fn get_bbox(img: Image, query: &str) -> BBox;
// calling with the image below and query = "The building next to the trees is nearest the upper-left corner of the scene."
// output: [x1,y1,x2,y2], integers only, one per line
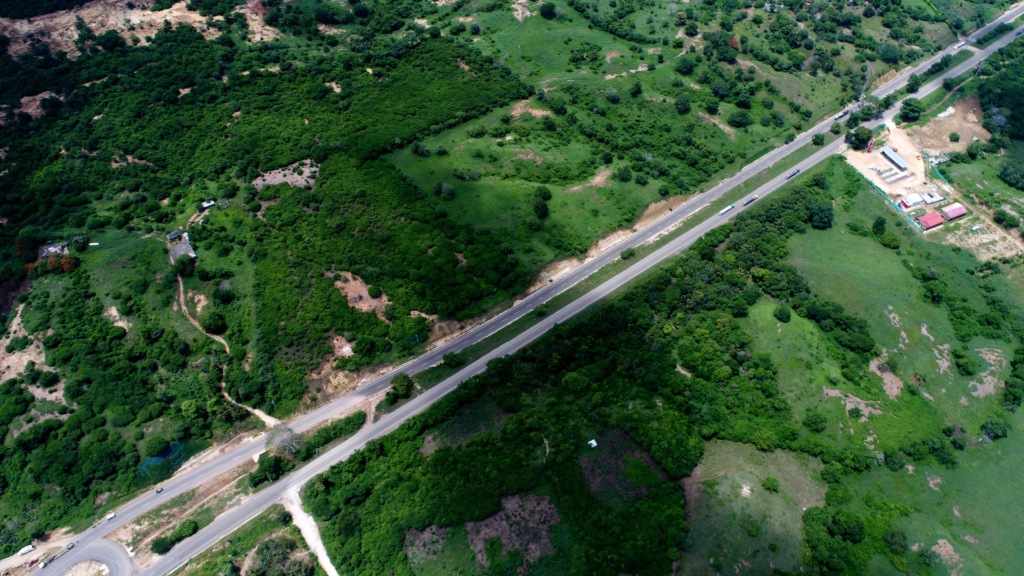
[39,242,71,261]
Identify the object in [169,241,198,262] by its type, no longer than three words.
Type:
house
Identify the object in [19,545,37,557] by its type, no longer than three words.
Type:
vehicle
